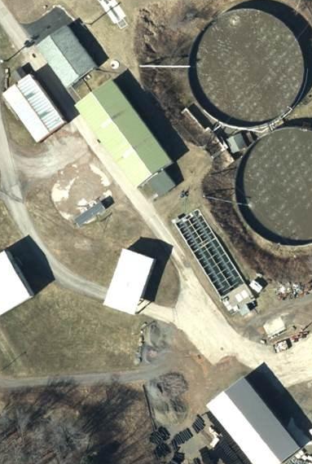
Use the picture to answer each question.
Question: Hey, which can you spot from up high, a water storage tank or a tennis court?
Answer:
water storage tank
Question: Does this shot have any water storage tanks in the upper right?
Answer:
Yes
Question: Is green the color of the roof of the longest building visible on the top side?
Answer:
Yes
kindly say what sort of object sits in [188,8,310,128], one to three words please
water tank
